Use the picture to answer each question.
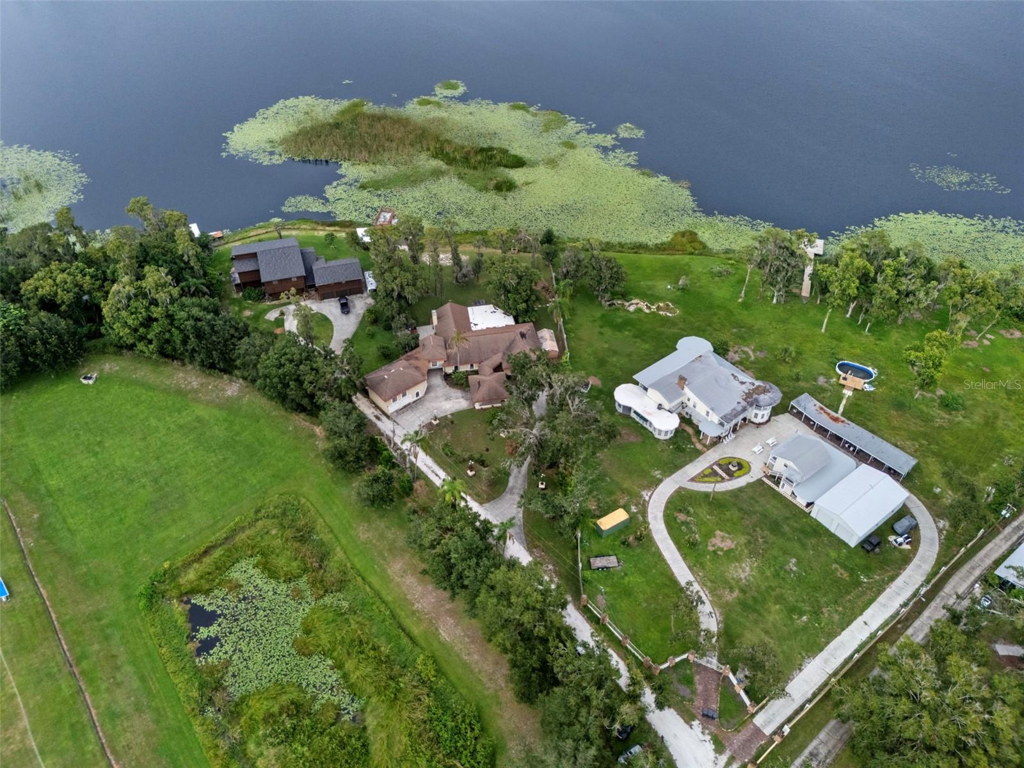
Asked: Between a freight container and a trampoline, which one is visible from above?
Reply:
freight container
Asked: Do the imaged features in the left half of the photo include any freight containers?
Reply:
No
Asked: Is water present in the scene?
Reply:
Yes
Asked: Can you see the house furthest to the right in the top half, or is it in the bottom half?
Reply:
bottom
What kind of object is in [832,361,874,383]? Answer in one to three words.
swimming pool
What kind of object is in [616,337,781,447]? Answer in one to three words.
house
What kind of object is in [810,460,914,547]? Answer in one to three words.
barn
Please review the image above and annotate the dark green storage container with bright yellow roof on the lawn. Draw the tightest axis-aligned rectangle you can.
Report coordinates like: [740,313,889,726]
[598,510,631,540]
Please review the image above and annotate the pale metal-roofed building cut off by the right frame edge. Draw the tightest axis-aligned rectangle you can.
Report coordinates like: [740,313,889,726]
[995,544,1024,610]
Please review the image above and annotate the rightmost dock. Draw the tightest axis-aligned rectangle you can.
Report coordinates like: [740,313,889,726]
[803,240,831,298]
